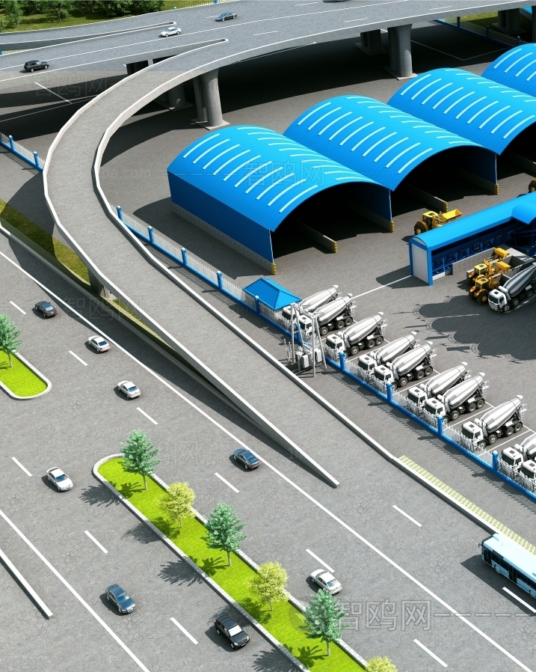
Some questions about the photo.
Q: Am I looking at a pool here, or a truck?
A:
truck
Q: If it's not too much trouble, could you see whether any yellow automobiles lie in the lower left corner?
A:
No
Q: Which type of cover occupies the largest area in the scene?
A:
paved ground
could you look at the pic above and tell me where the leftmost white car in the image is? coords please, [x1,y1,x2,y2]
[47,466,74,491]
